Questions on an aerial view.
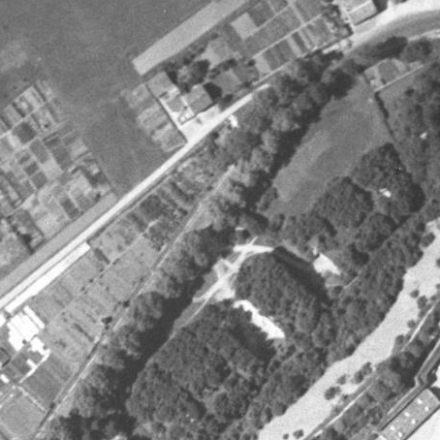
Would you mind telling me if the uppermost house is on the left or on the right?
right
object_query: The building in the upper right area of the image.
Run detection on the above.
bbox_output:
[340,0,377,25]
